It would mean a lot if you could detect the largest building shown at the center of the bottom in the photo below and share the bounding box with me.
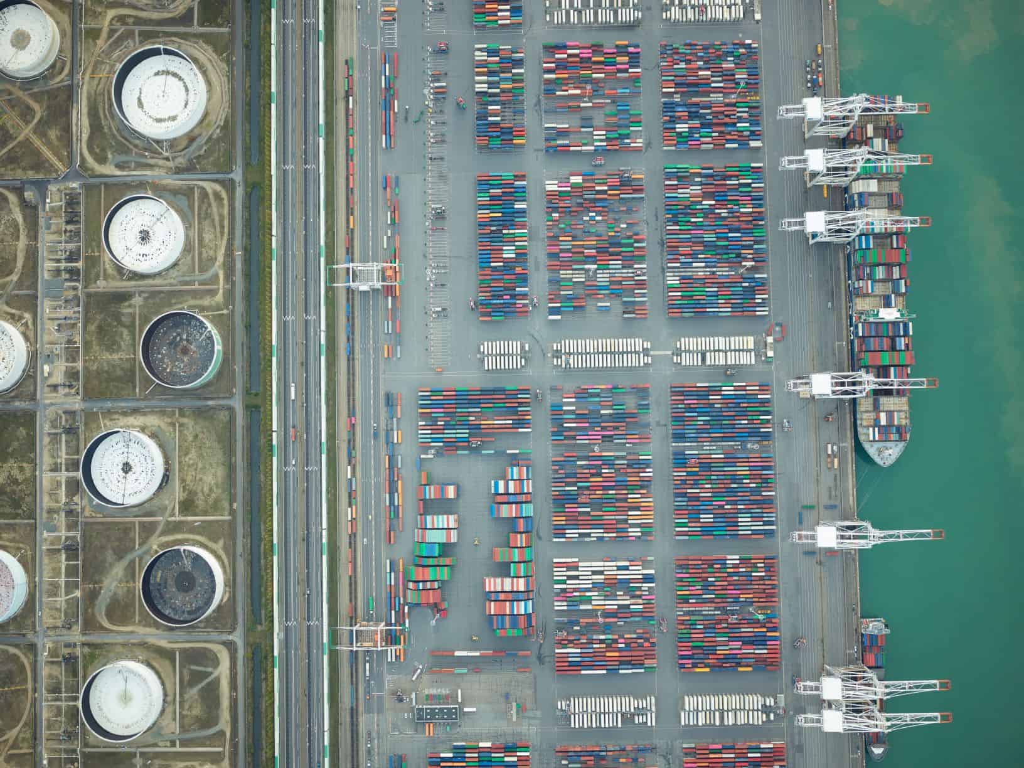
[416,703,460,723]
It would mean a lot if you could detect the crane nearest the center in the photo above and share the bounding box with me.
[326,262,403,292]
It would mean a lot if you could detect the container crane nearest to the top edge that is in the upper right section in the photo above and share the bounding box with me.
[775,95,929,141]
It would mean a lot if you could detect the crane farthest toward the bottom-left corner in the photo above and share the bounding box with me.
[332,619,412,651]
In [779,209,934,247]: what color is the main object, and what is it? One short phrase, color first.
white container crane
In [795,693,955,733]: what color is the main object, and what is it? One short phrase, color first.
white container crane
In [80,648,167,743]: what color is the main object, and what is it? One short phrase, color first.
white storage tank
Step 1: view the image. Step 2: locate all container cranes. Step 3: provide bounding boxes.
[326,262,403,292]
[775,95,929,141]
[332,619,412,651]
[794,657,953,700]
[795,693,955,733]
[784,371,941,402]
[777,147,931,188]
[779,209,934,247]
[789,514,947,549]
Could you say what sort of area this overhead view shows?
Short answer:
industrial area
